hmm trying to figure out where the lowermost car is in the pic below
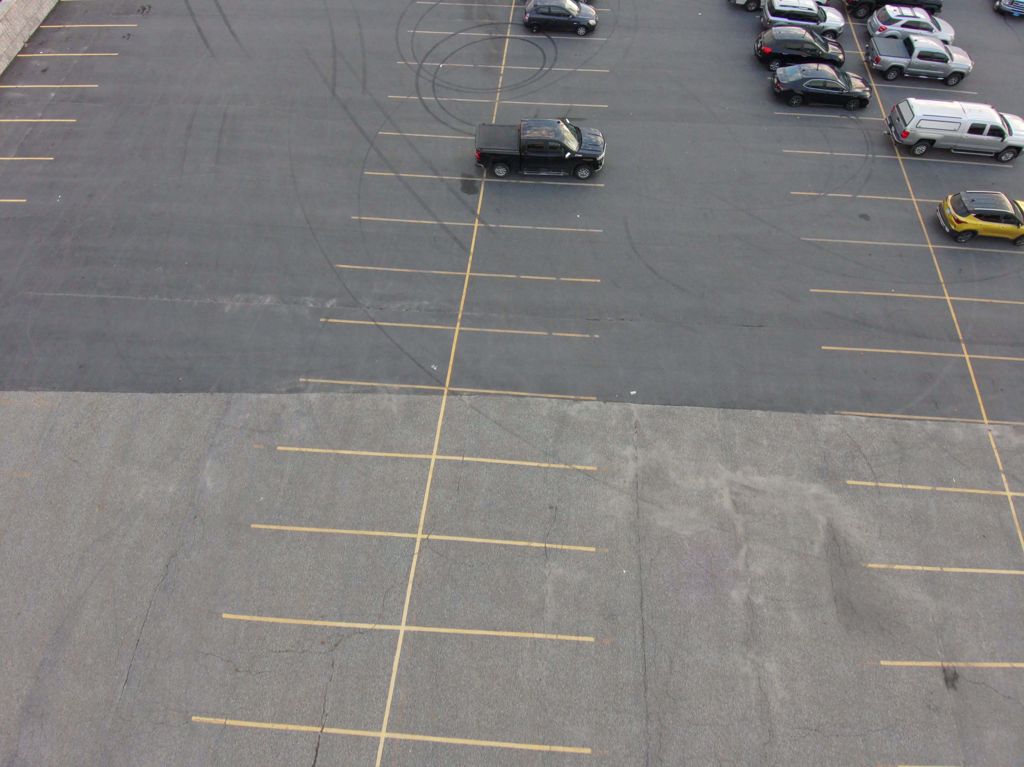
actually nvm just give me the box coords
[939,188,1024,246]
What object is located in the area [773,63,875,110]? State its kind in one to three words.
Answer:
car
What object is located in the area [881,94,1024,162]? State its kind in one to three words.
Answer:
truck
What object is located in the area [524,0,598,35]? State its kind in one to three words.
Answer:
car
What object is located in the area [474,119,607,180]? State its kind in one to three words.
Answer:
truck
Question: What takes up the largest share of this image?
paved ground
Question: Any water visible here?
No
